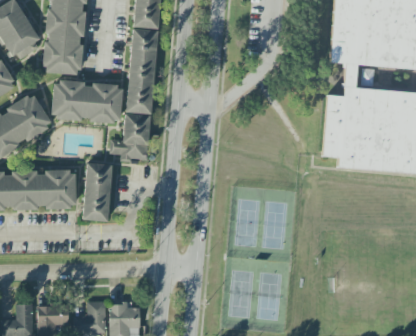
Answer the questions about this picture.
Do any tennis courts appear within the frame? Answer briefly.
Yes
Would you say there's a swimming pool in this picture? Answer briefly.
Yes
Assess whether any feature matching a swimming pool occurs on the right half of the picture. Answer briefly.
No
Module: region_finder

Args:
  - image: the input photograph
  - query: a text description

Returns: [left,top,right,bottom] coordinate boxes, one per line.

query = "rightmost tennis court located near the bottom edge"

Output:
[252,260,291,333]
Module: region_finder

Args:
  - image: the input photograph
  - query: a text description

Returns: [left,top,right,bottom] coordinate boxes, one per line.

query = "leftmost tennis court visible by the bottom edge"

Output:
[221,258,258,331]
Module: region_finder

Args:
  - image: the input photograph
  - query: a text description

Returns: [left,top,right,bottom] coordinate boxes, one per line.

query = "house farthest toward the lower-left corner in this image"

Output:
[4,304,34,336]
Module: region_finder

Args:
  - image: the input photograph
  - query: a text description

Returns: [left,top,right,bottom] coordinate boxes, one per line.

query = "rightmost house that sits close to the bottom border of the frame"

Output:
[108,302,141,336]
